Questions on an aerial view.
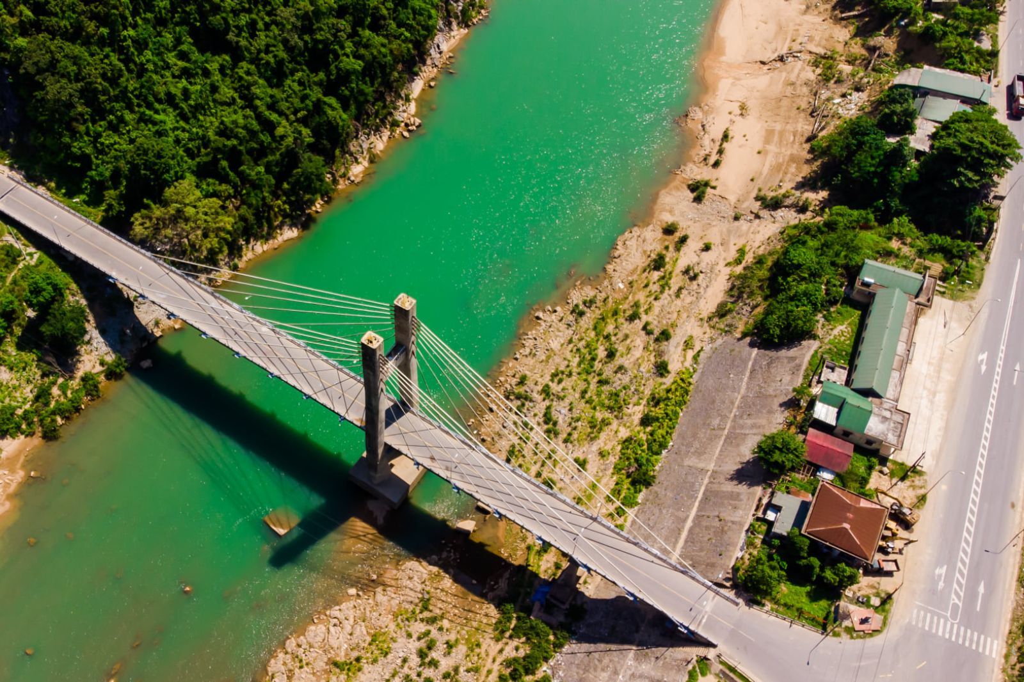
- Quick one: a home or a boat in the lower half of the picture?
home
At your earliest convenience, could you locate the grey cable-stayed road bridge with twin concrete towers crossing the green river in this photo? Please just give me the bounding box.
[0,167,744,647]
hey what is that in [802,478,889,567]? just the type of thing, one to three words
house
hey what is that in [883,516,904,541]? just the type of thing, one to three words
work vehicle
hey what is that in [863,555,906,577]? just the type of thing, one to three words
truck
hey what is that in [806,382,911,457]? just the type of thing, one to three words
building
